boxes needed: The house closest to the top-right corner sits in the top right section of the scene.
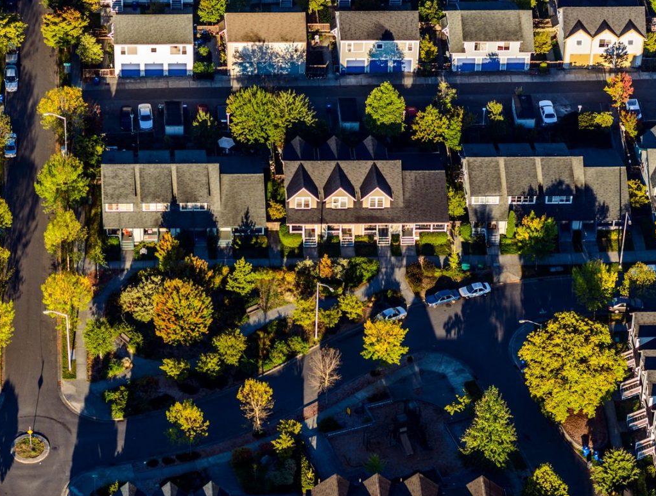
[553,0,645,70]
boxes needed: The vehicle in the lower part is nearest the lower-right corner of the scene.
[608,293,646,312]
